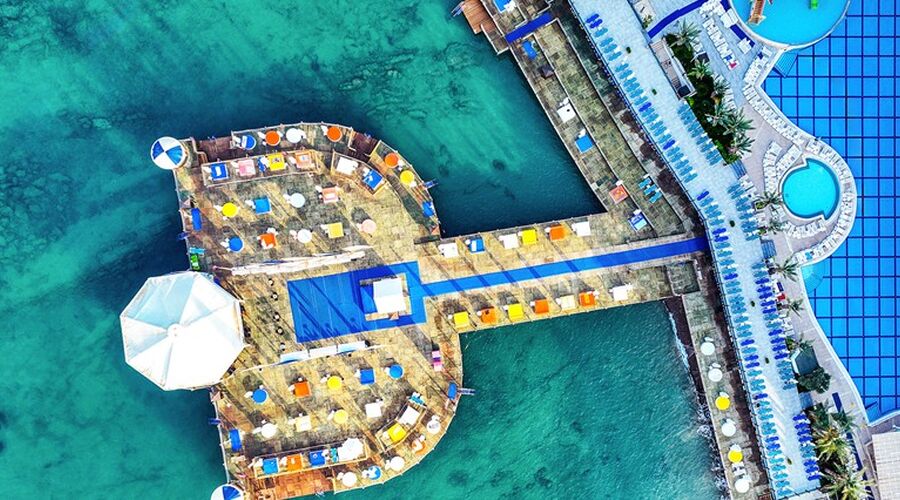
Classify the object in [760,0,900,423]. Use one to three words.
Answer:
swimming pool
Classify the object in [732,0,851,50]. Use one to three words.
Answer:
swimming pool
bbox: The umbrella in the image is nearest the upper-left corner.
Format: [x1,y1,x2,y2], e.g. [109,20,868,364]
[151,136,185,170]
